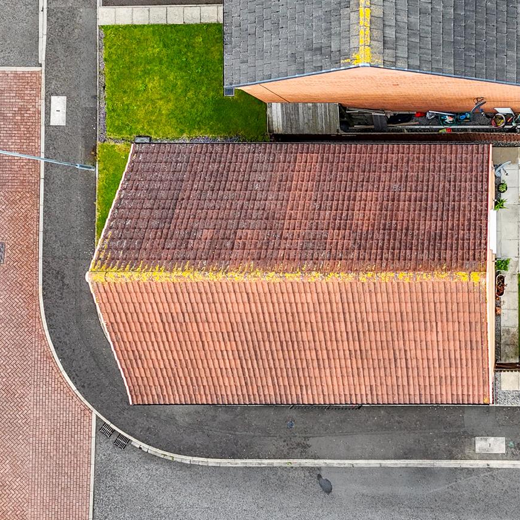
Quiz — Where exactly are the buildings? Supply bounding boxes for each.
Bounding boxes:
[85,135,497,407]
[221,0,520,111]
